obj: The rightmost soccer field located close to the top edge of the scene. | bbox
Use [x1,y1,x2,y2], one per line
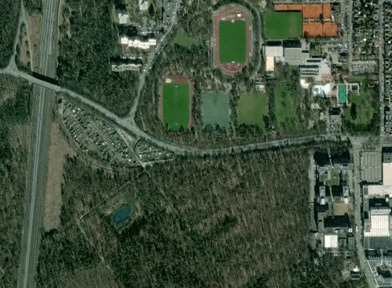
[265,12,301,38]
